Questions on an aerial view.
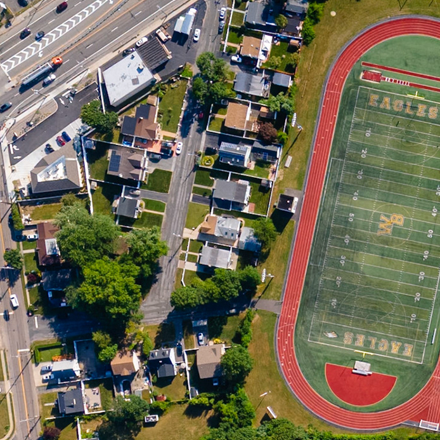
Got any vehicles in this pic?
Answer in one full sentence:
Yes, a vehicle is visible in the scene.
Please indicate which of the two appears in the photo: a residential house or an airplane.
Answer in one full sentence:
It is a residential house that can be seen here.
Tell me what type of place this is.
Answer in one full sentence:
It's a sports ground.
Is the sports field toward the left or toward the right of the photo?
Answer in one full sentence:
You can find the sports field on the right side of the picture.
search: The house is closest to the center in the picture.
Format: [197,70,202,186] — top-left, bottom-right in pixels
[200,216,244,240]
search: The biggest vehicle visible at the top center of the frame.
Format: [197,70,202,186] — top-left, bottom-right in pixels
[181,10,195,33]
